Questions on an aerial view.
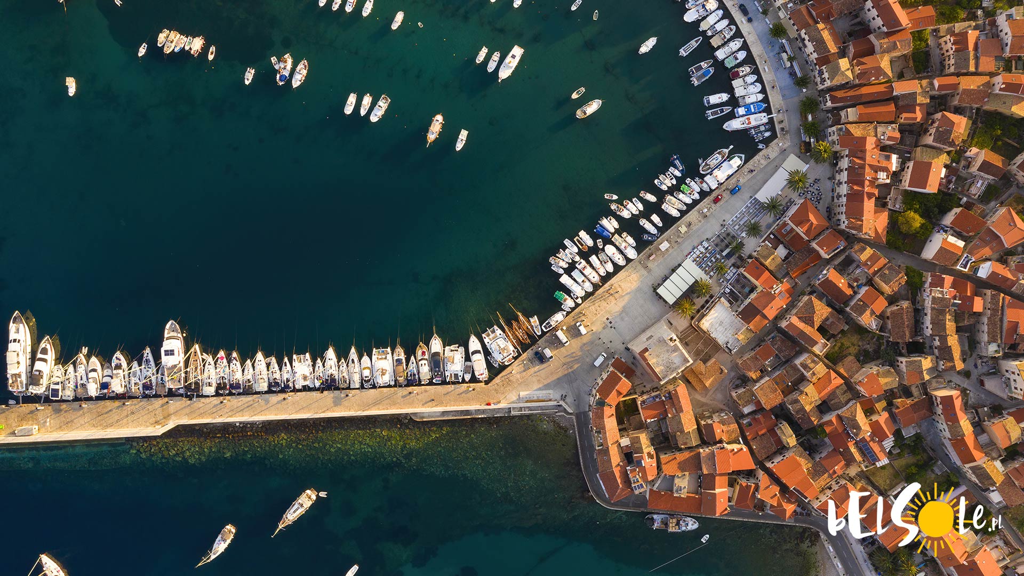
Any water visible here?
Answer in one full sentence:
Yes, there's water in this view.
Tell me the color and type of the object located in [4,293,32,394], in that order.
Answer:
white boat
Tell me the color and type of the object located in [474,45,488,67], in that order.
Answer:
white boat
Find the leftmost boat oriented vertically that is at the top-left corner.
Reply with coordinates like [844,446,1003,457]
[65,76,77,100]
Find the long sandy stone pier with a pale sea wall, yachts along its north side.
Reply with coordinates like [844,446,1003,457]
[0,384,561,443]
